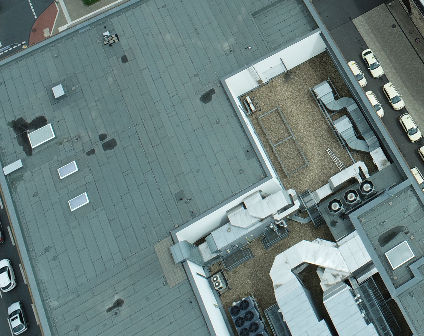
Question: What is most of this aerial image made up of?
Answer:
buildings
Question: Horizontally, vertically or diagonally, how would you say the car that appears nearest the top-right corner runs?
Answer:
diagonally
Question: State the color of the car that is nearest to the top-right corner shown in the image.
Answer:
white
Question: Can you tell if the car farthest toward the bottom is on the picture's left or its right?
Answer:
left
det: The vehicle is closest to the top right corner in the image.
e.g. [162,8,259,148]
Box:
[361,50,384,78]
